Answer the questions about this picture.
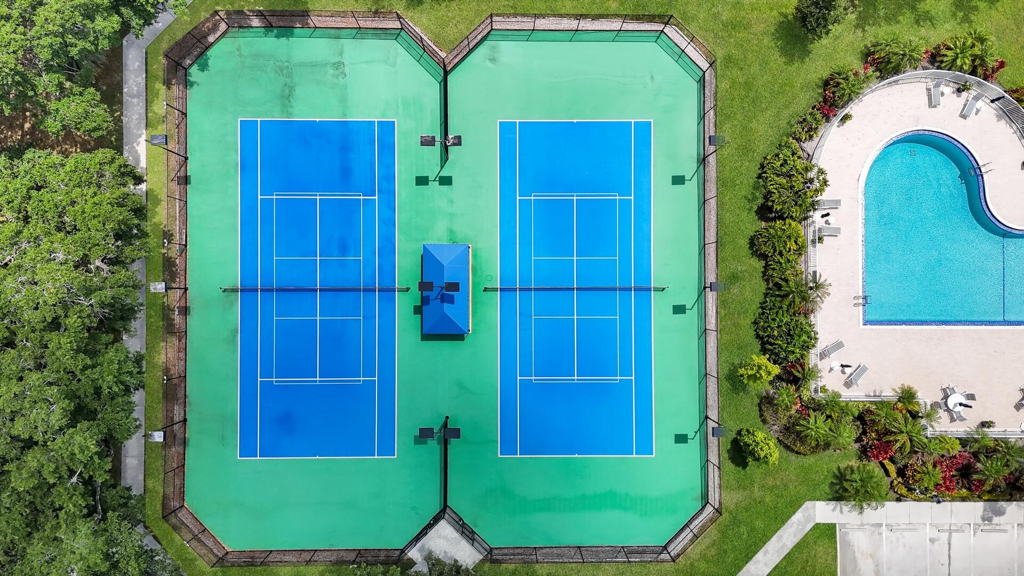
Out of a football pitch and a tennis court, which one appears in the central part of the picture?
tennis court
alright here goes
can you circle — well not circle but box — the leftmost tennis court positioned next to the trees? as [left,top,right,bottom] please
[184,27,447,551]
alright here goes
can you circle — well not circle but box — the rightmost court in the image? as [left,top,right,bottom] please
[447,30,708,547]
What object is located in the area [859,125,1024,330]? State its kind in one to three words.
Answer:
swimming pool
